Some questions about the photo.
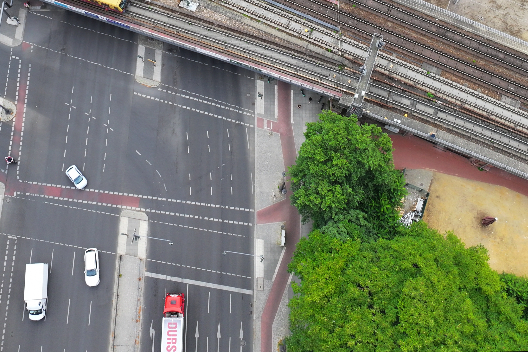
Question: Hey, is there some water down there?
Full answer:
No, the picture contains no water.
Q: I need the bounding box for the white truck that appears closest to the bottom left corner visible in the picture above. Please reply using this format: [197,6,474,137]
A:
[21,261,46,322]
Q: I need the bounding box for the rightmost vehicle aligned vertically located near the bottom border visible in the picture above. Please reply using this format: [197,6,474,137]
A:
[160,291,185,352]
